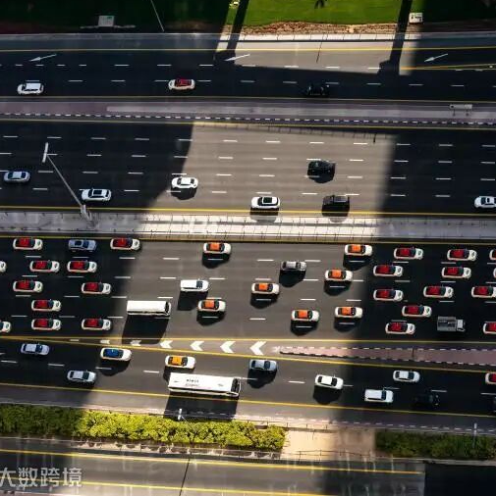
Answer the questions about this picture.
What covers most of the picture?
paved ground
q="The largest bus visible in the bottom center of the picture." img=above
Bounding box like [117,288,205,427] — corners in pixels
[167,373,241,397]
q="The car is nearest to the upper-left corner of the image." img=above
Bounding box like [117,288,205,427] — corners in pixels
[18,81,43,93]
